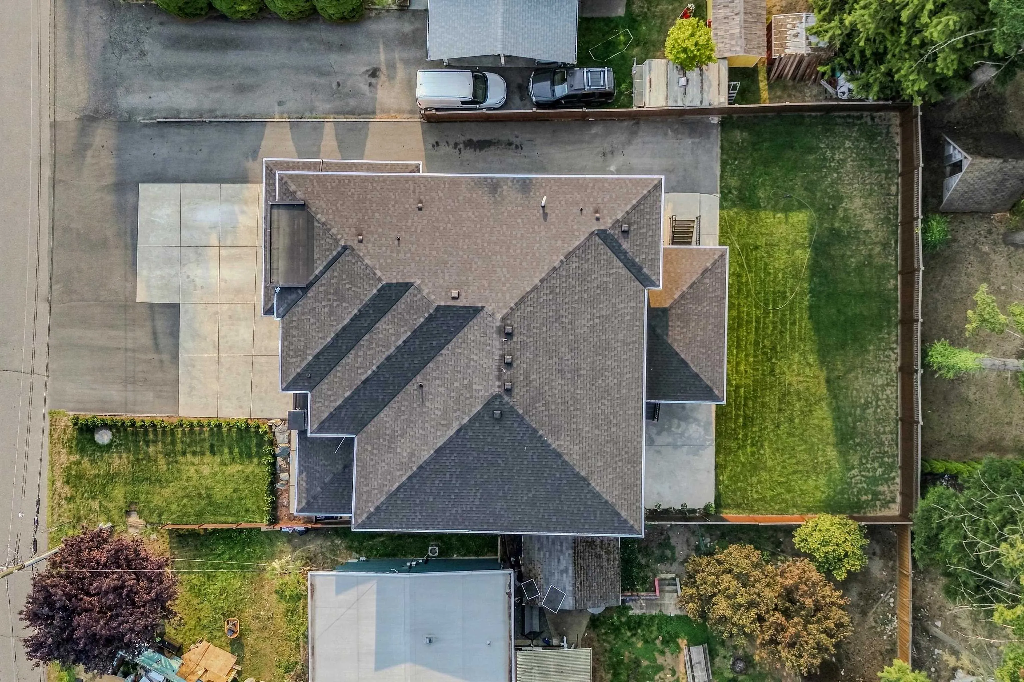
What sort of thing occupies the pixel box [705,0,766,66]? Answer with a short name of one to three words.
shed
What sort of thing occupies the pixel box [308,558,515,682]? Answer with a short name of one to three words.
house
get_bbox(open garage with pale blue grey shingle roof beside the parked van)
[427,0,577,73]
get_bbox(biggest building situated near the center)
[263,160,727,537]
